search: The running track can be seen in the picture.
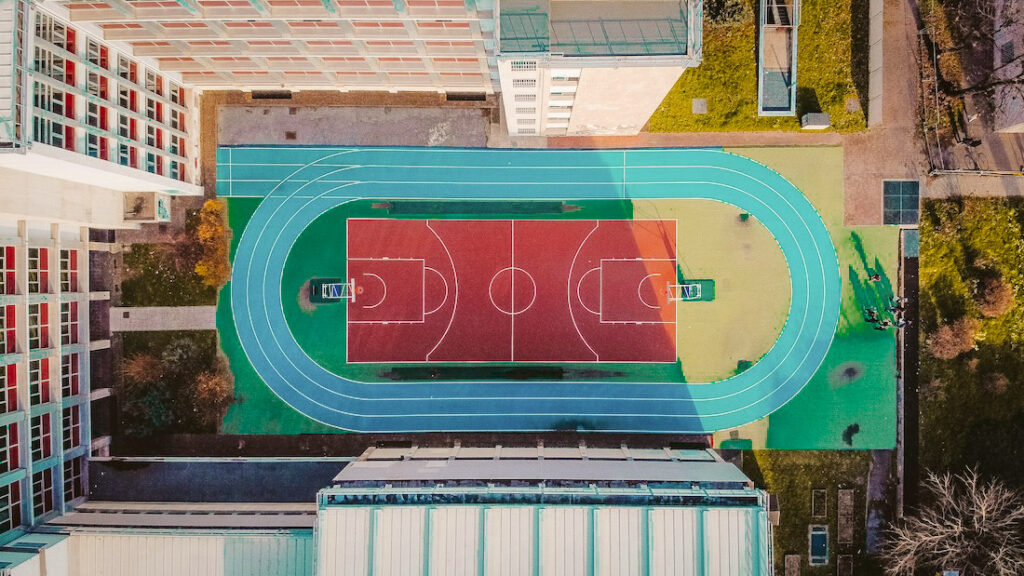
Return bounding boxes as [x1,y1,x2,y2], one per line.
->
[217,146,840,432]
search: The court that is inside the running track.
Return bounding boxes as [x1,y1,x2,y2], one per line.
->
[347,219,677,363]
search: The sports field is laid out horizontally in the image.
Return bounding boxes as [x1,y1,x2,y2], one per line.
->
[217,147,897,448]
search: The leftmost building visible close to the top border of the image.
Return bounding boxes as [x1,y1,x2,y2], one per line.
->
[0,0,205,188]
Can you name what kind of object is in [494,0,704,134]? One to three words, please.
building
